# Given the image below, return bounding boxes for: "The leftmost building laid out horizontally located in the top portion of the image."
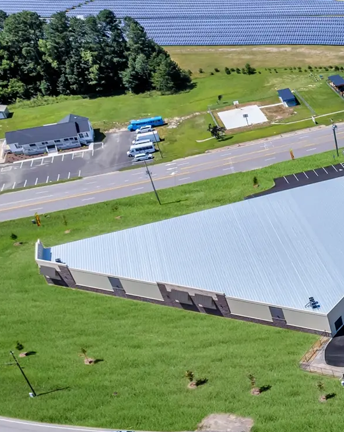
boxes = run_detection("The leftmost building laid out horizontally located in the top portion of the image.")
[0,119,76,156]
